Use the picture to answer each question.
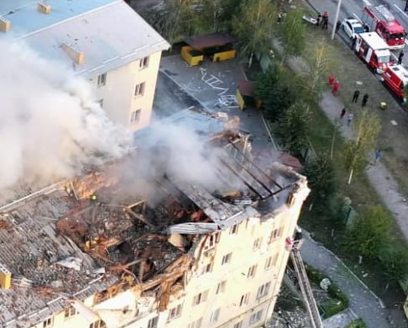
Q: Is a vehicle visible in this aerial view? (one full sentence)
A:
Yes, there's a vehicle here.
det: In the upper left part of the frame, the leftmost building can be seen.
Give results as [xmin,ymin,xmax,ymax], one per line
[0,0,171,162]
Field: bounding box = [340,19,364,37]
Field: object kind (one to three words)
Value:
car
